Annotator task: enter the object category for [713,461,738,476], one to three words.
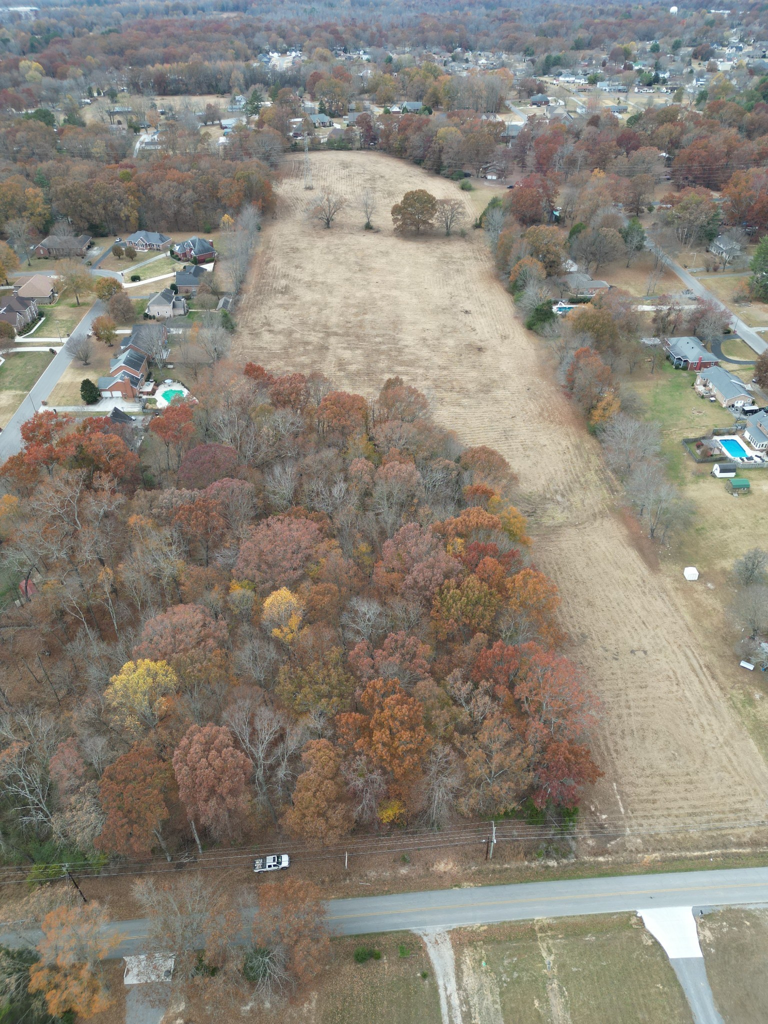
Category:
shed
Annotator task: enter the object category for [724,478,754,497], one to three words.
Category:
building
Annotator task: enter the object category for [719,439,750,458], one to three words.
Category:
swimming pool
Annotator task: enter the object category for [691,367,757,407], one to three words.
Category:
house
